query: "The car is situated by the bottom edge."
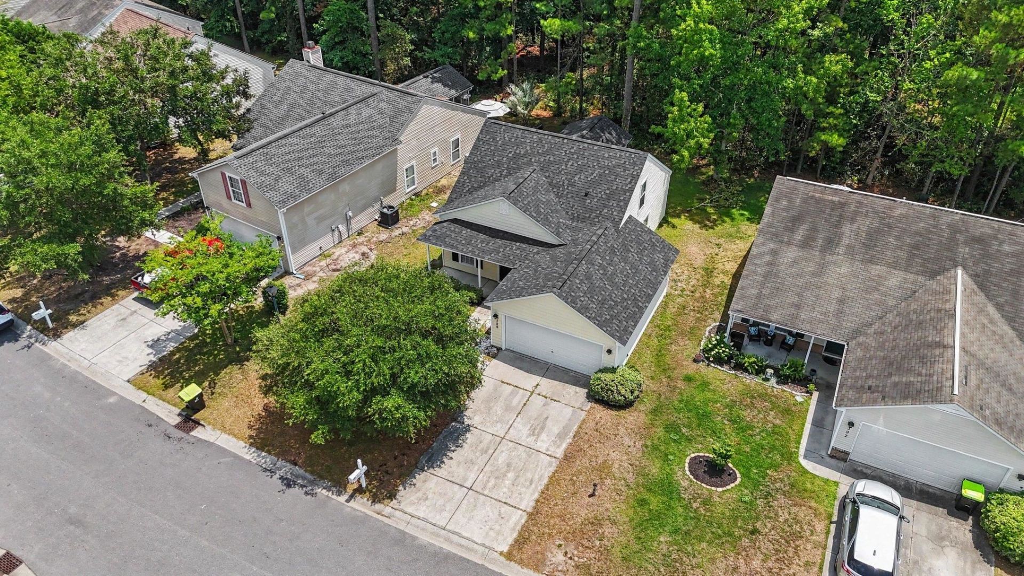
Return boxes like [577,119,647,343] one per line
[832,480,911,576]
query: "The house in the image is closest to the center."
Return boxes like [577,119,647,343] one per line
[417,114,680,379]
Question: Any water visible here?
No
